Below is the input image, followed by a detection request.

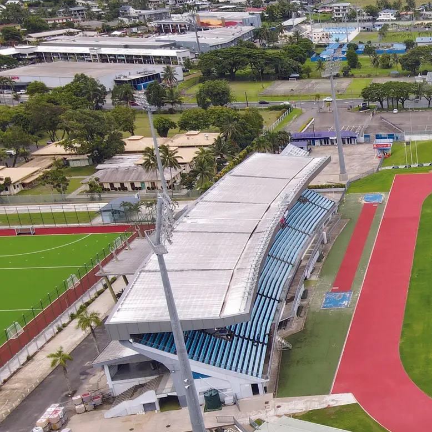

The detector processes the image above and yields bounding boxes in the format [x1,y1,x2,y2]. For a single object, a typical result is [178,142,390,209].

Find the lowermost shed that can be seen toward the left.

[94,192,150,224]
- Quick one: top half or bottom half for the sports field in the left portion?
bottom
